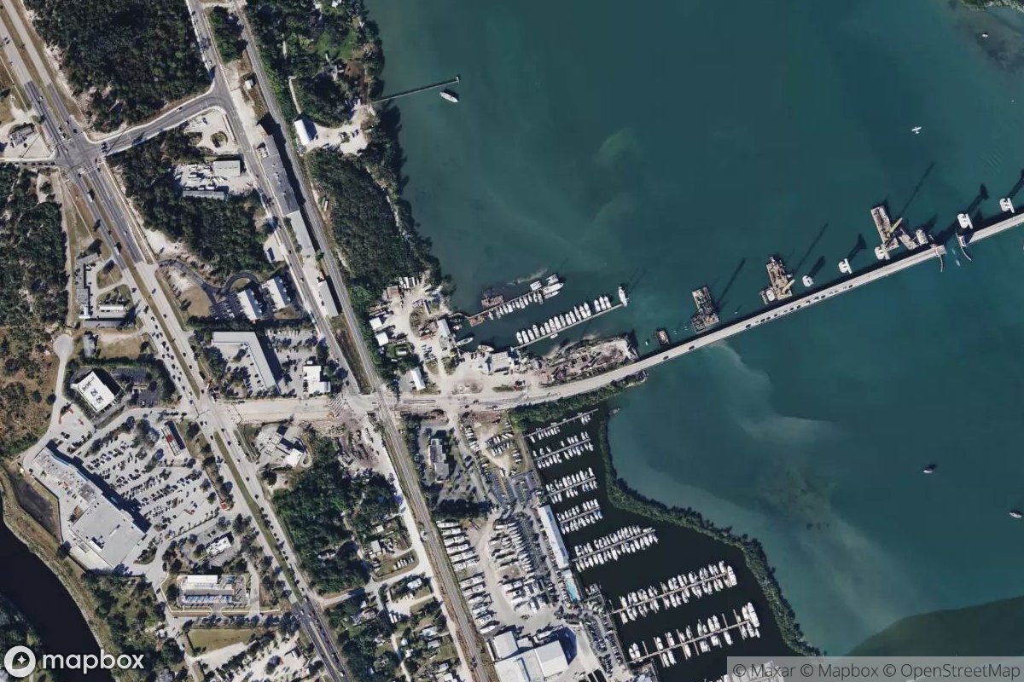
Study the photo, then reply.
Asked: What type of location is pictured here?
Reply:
port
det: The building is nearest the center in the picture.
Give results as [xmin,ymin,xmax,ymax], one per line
[491,351,511,372]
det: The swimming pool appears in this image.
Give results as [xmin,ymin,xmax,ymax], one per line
[565,578,580,603]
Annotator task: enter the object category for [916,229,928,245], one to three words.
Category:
ship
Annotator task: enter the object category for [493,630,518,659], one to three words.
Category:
hangar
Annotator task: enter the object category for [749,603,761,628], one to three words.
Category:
boat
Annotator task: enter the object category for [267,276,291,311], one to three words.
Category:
building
